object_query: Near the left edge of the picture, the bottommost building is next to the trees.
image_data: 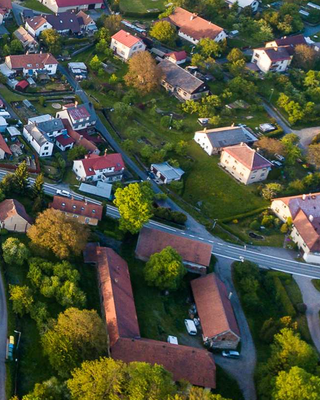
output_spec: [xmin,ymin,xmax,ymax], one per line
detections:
[0,202,29,227]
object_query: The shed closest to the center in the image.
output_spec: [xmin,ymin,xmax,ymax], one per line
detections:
[151,161,189,185]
